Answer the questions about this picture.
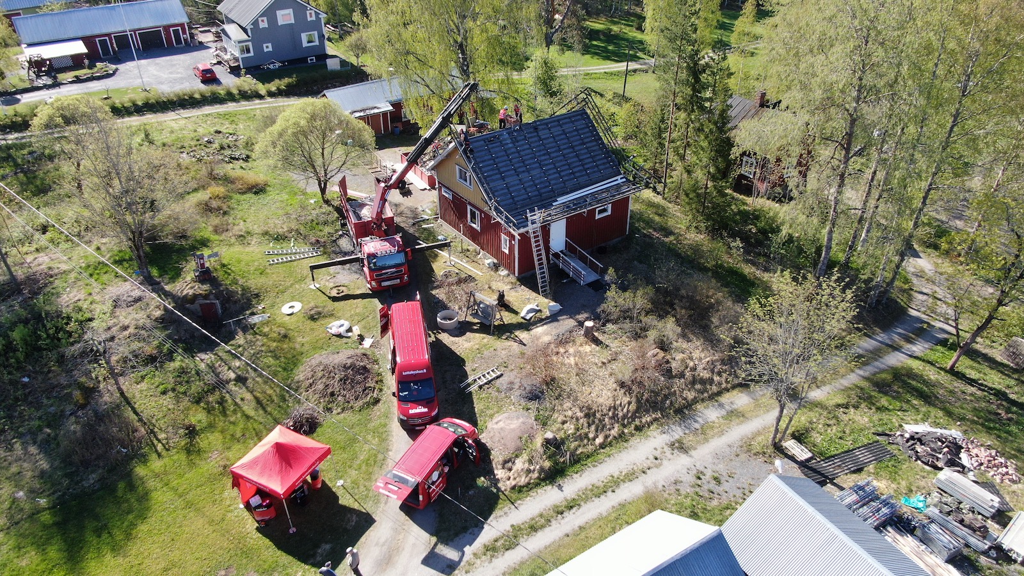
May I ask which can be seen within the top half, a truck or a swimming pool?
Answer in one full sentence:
You can see a truck within the top half.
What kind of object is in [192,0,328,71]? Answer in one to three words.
house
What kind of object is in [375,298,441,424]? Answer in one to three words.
van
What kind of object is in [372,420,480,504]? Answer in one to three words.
van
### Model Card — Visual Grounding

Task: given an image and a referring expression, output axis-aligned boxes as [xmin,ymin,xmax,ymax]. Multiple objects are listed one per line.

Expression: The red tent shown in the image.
[229,425,340,532]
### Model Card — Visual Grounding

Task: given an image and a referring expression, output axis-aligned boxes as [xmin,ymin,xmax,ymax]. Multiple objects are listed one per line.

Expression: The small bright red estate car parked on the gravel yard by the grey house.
[195,63,213,79]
